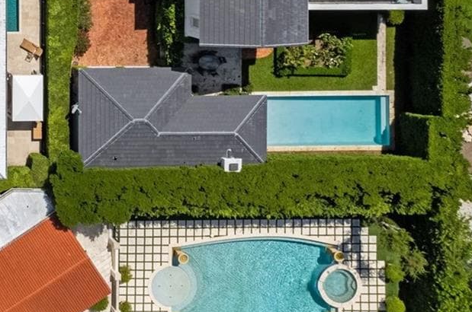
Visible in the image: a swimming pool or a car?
swimming pool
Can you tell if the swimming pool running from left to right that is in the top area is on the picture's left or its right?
right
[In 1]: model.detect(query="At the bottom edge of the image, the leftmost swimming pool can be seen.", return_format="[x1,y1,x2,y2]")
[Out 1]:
[144,232,337,312]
